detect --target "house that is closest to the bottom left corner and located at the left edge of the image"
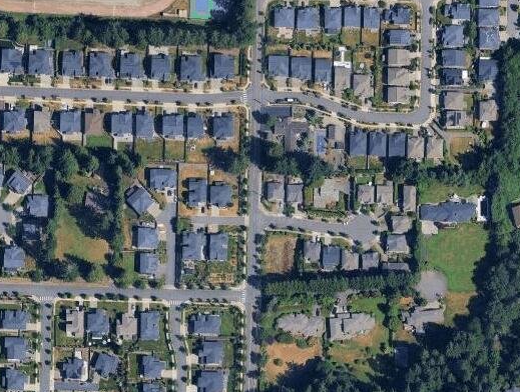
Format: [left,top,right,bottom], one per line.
[4,369,25,392]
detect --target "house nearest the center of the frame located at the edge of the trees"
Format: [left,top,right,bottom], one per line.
[266,182,283,203]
